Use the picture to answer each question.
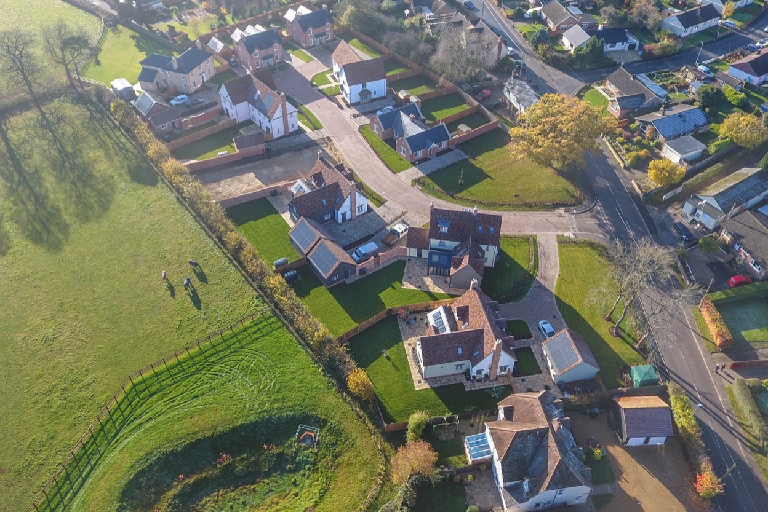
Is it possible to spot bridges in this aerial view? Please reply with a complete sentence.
No, the scene contains no bridge.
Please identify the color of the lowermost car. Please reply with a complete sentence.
The lowermost car looks blue in the image.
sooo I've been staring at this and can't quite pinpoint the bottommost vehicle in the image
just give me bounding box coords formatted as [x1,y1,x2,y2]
[534,316,557,340]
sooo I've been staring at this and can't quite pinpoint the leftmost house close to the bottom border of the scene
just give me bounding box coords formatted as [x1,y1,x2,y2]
[464,398,586,512]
